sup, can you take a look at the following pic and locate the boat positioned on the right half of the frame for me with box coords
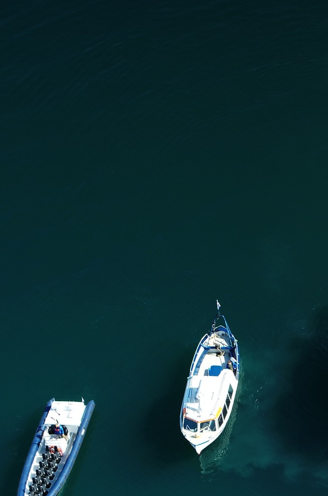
[180,300,240,458]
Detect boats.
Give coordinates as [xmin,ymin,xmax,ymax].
[180,300,240,458]
[18,397,98,496]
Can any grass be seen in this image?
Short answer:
No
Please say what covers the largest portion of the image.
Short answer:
water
